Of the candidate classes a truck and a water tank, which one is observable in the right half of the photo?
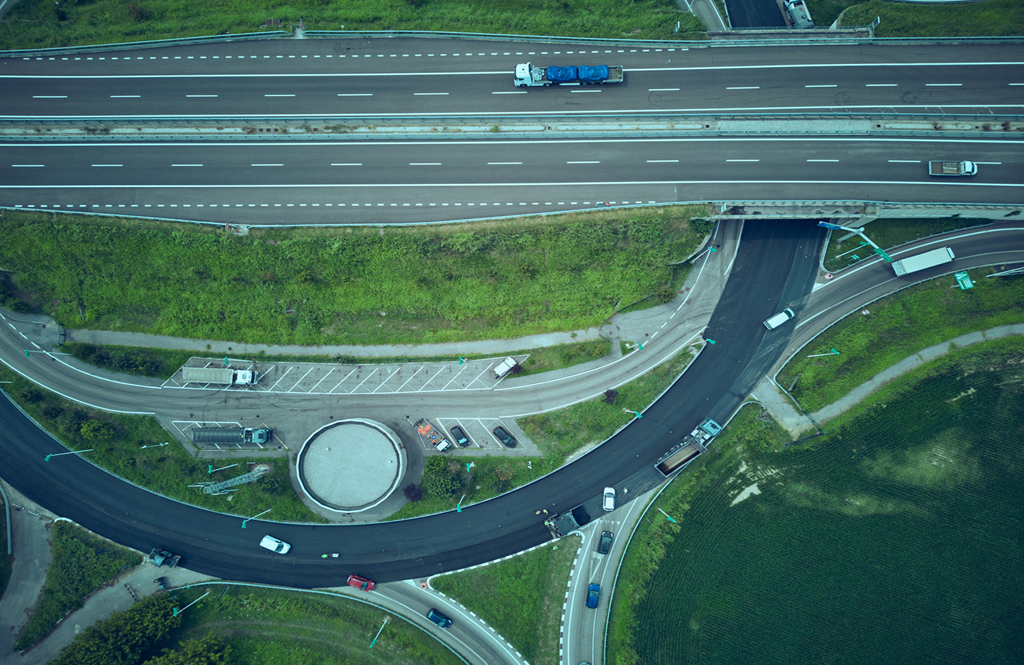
truck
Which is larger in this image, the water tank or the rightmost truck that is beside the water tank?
the water tank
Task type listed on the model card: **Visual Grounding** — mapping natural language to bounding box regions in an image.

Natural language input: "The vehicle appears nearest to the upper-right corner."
[929,161,977,178]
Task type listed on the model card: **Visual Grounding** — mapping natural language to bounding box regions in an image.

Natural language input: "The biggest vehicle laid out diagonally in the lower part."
[655,417,724,480]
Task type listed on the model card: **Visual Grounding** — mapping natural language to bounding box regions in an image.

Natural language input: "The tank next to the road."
[296,419,406,513]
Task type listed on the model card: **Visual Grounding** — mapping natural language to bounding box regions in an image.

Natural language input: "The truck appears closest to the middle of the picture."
[493,354,519,381]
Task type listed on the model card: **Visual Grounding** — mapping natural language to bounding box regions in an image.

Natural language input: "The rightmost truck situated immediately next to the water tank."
[413,417,451,455]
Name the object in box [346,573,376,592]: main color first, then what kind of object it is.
red car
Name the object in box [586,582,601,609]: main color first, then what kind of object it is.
blue car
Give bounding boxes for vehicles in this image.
[146,548,183,571]
[177,368,262,389]
[597,530,612,555]
[148,577,167,590]
[596,200,609,208]
[493,425,516,449]
[493,354,519,381]
[655,417,724,480]
[929,161,977,178]
[602,486,616,511]
[586,582,601,609]
[763,307,795,331]
[892,244,960,277]
[451,426,469,449]
[514,63,624,88]
[346,573,376,592]
[425,607,453,629]
[187,427,274,446]
[413,417,451,455]
[258,535,290,555]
